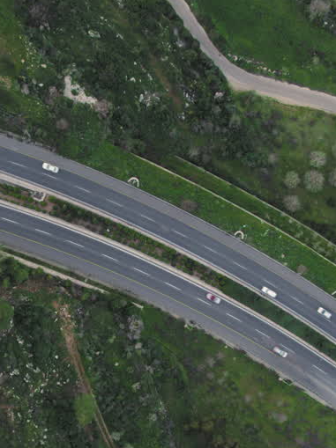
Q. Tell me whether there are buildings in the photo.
No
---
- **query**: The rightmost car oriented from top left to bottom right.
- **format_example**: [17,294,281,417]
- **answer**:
[317,306,333,319]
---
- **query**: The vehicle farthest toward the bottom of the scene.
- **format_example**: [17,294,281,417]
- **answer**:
[273,345,289,357]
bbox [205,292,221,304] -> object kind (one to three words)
vehicle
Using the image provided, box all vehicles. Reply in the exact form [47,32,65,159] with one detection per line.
[317,306,333,319]
[261,286,279,299]
[42,162,58,173]
[273,345,289,357]
[205,292,221,304]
